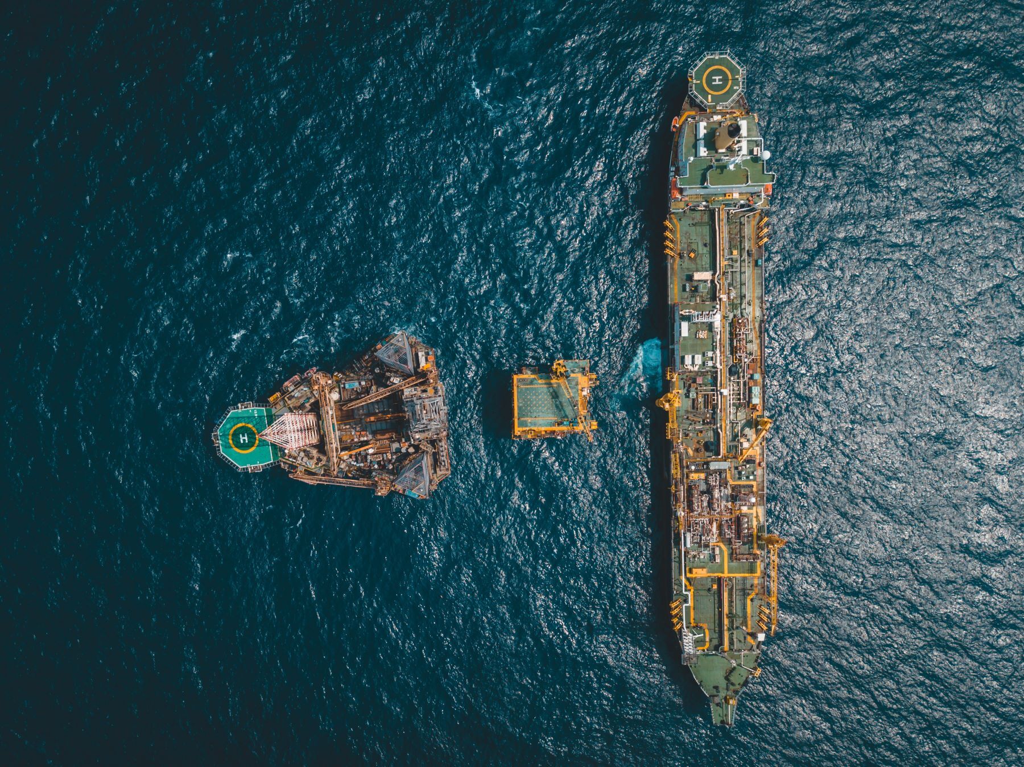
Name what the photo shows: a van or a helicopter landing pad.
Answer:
helicopter landing pad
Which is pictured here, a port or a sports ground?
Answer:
port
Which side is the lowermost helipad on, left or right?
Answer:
left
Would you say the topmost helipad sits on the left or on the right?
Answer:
right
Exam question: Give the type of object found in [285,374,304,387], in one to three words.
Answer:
boat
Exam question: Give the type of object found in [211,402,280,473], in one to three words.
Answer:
helipad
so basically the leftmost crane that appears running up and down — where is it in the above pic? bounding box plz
[316,369,337,476]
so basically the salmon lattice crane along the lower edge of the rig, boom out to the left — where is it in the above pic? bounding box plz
[288,474,393,496]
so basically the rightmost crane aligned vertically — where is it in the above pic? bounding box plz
[759,536,791,635]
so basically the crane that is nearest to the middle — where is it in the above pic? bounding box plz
[552,360,593,442]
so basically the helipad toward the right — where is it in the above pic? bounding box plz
[688,51,750,109]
